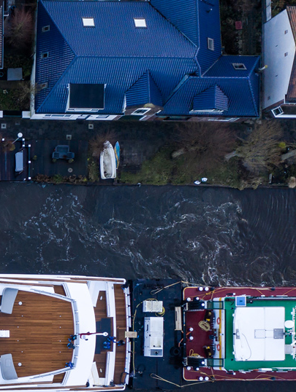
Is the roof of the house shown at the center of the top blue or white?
blue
